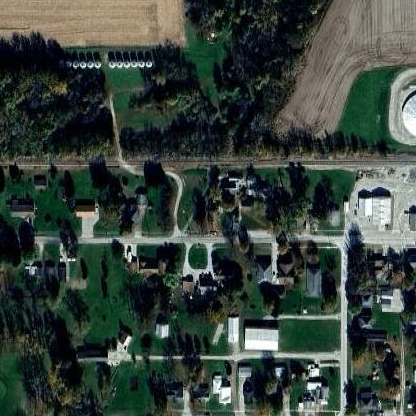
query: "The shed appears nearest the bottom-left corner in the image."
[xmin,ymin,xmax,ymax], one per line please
[77,343,107,358]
